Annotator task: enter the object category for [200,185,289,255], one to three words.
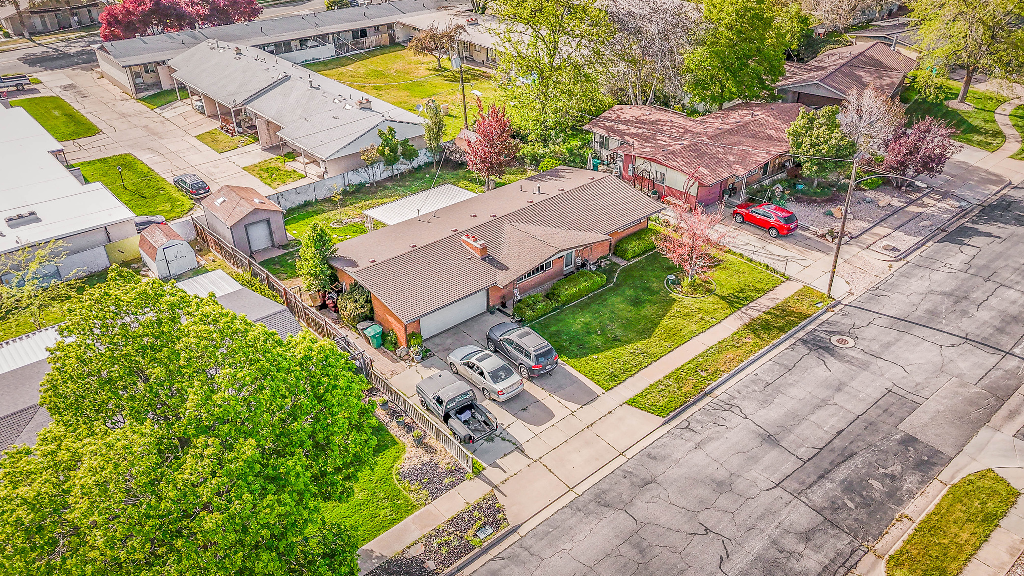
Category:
shed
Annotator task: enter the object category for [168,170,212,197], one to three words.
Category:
car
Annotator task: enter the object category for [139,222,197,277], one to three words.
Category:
shed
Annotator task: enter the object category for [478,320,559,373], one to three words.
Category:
car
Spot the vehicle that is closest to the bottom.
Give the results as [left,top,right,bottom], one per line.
[409,374,502,446]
